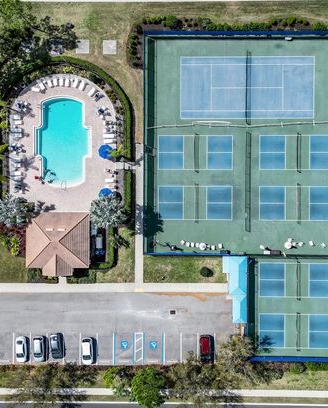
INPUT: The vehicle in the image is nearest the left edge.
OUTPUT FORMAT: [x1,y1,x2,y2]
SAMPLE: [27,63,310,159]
[12,337,26,364]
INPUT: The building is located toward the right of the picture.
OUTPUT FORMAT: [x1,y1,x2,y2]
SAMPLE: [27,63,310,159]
[222,256,247,326]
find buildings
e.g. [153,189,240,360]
[25,212,90,277]
[222,256,247,326]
